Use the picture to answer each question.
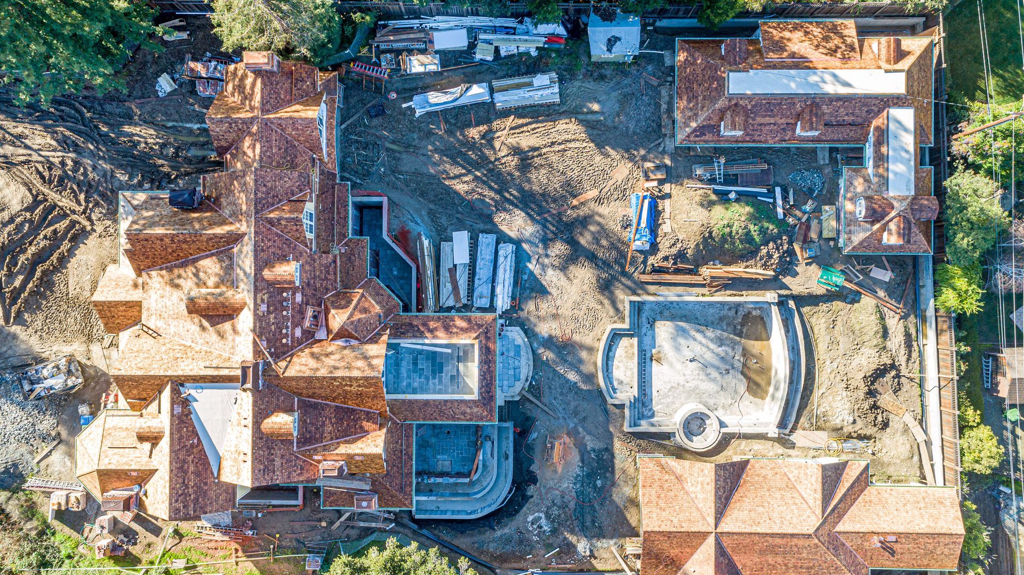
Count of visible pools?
1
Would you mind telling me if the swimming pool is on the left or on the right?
right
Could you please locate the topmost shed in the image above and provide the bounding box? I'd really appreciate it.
[588,12,640,69]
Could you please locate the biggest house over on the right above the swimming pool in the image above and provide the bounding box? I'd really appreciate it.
[673,19,937,255]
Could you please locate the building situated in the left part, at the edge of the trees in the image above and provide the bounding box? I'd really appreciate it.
[74,50,499,521]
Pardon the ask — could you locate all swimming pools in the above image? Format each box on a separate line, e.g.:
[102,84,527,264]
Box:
[598,294,807,452]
